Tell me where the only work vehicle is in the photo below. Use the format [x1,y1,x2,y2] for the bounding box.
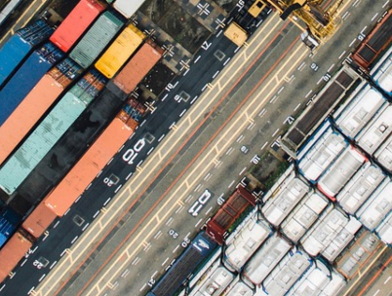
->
[226,0,272,43]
